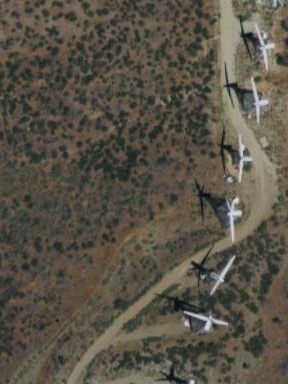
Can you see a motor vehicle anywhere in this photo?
No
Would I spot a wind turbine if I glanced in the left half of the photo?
No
